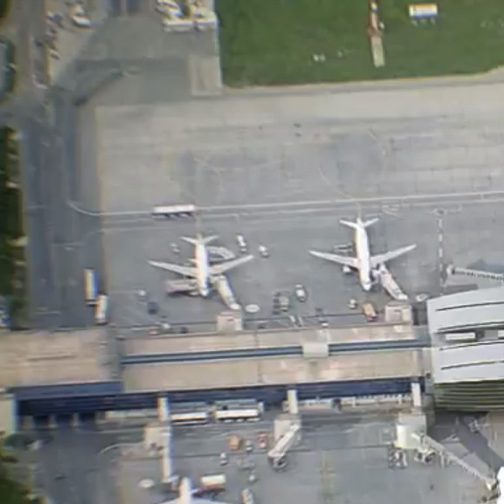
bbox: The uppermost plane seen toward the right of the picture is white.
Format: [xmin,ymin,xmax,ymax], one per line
[309,202,415,291]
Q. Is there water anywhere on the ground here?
No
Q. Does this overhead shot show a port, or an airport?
airport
